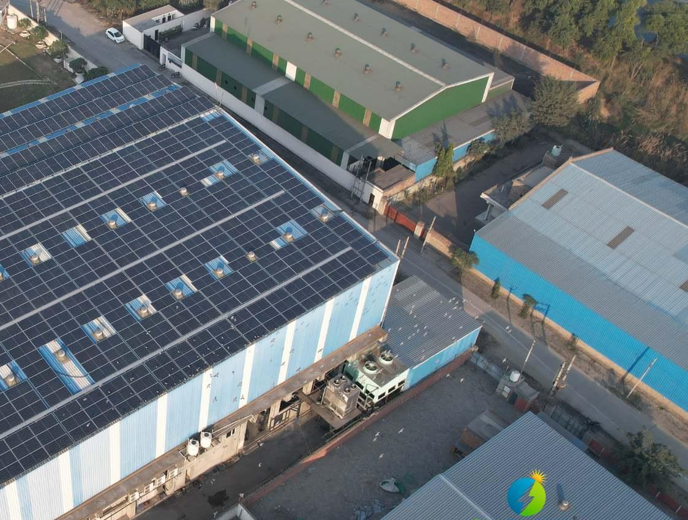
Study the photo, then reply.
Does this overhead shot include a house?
Yes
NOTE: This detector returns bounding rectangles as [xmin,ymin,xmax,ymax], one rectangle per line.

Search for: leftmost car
[105,27,128,45]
